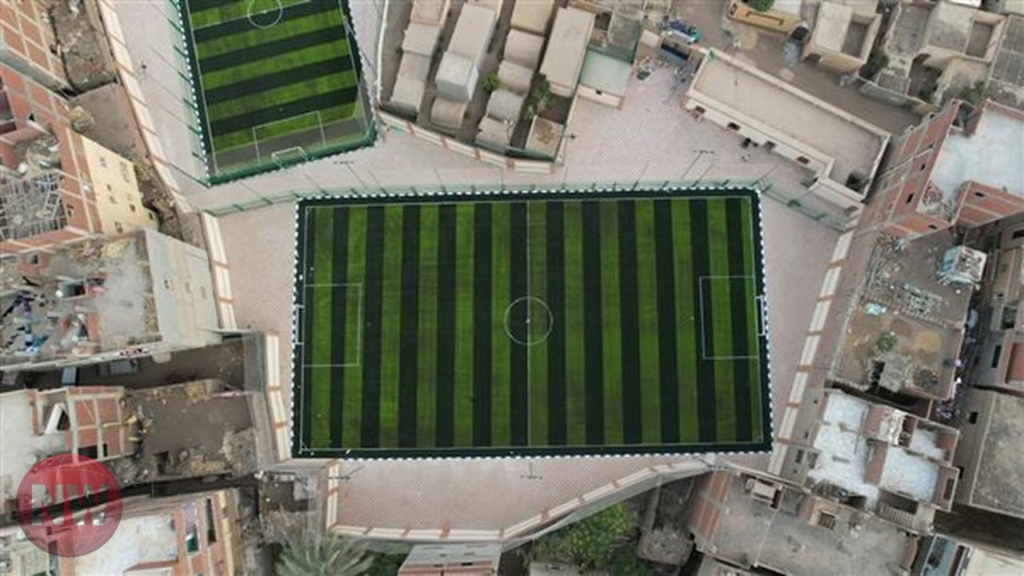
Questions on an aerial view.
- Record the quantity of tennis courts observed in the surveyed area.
0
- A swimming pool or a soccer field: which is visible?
soccer field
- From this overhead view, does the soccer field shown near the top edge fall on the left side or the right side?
left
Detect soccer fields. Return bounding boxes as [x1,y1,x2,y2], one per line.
[179,0,381,189]
[291,188,775,462]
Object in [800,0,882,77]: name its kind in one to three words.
house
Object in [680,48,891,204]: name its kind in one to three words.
building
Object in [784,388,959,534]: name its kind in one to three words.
house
